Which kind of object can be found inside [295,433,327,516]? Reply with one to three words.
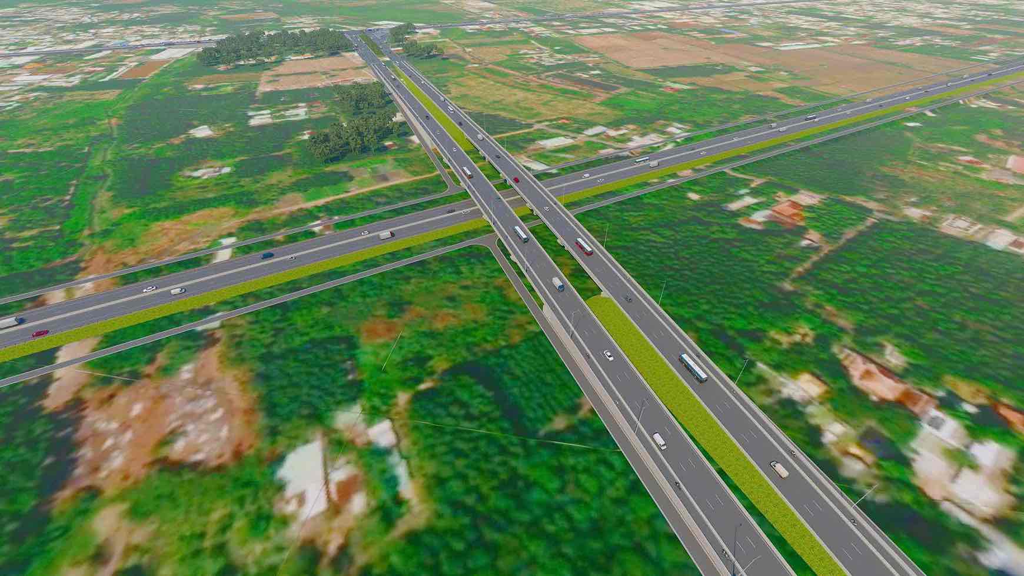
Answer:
shed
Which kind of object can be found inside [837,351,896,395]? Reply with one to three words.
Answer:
building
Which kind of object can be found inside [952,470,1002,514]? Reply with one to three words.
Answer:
house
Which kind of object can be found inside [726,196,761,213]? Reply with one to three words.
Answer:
house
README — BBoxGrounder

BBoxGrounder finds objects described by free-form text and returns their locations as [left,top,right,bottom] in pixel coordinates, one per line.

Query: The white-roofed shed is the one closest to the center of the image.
[537,137,574,150]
